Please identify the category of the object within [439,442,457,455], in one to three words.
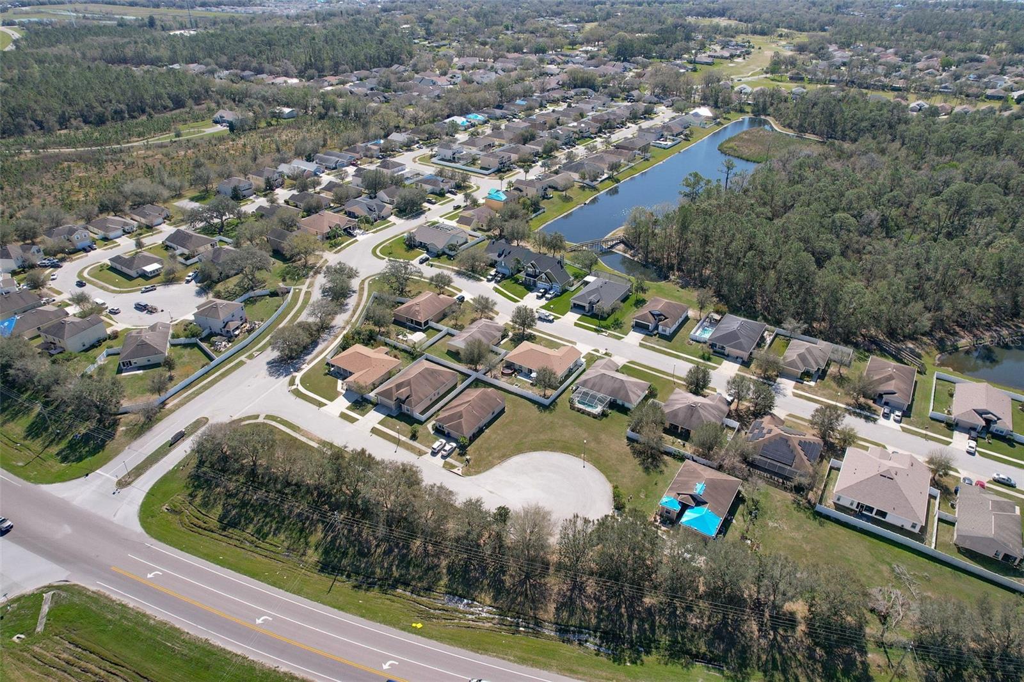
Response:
vehicle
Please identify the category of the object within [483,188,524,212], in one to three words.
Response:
house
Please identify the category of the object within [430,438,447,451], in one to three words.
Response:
vehicle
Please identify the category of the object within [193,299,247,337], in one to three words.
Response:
house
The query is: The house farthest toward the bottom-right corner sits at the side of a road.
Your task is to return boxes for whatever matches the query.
[951,482,1024,569]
